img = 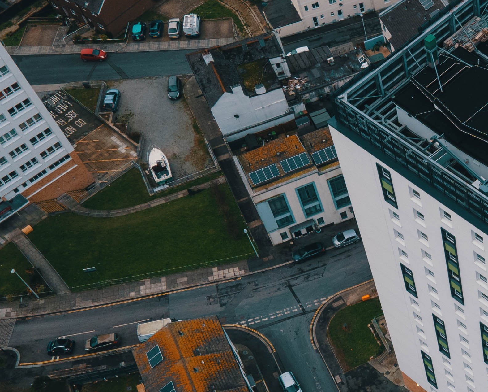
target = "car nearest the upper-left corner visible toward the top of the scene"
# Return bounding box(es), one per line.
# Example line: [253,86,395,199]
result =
[80,49,109,63]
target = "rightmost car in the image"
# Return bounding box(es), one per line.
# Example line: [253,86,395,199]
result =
[331,231,362,251]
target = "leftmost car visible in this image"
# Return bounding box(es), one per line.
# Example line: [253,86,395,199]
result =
[44,337,80,359]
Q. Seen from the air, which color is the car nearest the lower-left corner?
black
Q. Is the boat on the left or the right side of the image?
left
